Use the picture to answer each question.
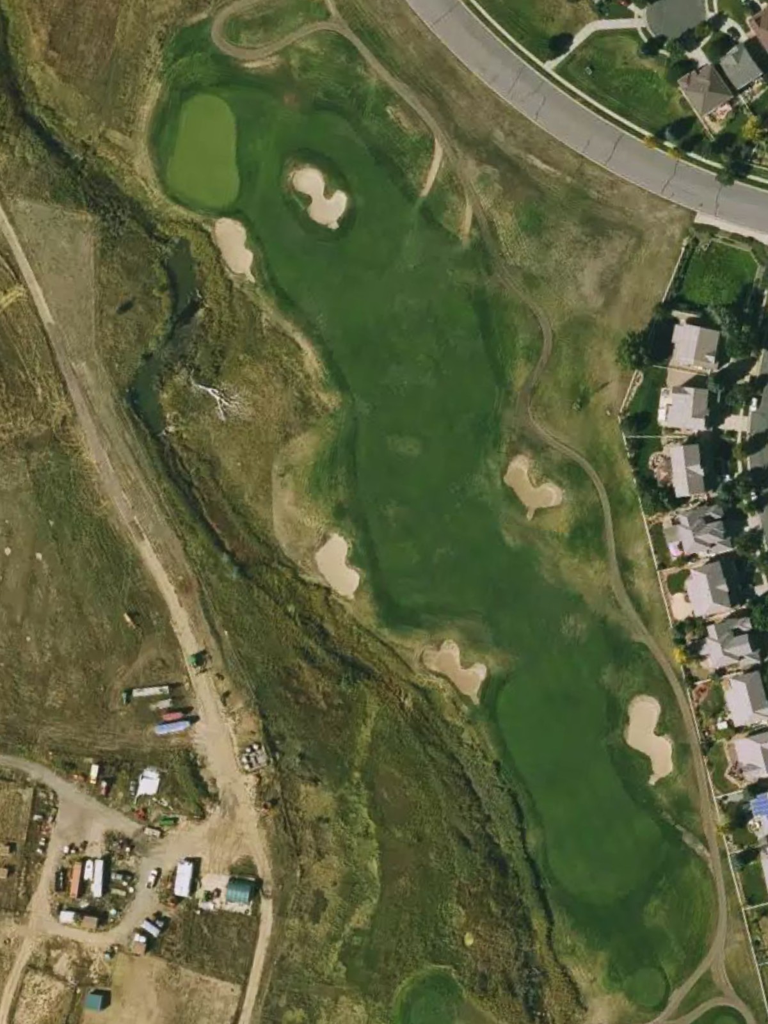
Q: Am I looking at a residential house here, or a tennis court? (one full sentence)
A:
Visible in the photo is a residential house.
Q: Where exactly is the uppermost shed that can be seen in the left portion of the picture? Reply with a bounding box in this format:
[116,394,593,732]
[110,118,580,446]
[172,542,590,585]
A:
[135,767,159,803]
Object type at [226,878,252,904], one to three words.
barn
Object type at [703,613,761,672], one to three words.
house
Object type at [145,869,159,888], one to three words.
vehicle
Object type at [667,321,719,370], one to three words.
house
